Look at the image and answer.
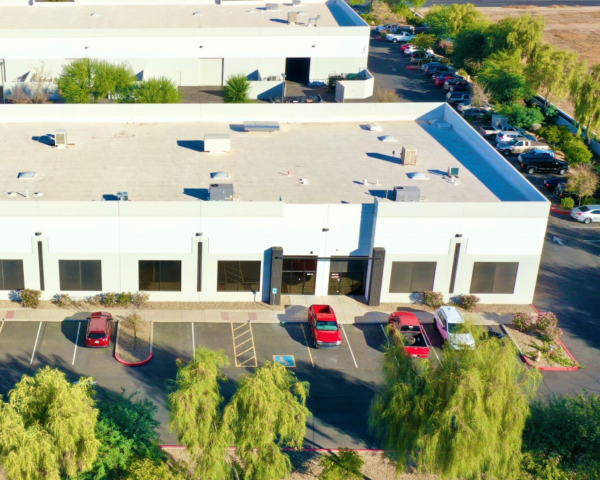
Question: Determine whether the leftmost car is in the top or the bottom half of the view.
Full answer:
You can find the leftmost car in the bottom half.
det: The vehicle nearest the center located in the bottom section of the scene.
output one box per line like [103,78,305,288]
[303,296,341,341]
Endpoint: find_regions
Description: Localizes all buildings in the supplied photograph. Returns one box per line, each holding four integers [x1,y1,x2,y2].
[0,0,369,86]
[0,103,551,305]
